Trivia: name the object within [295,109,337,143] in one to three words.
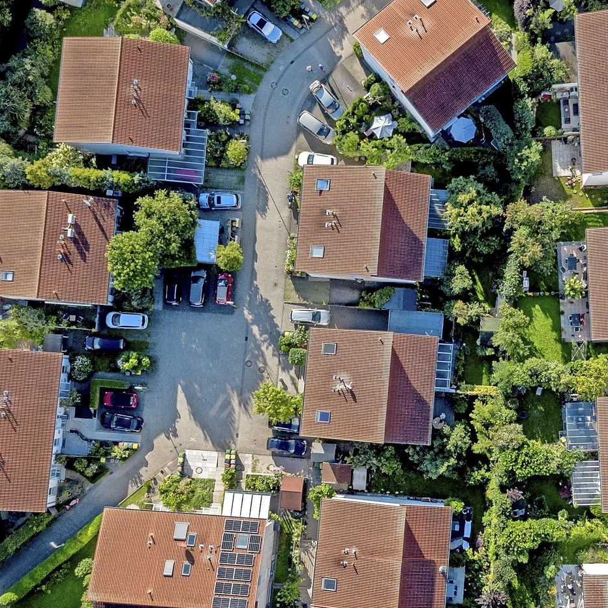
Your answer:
car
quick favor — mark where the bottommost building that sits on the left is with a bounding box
[87,504,274,608]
